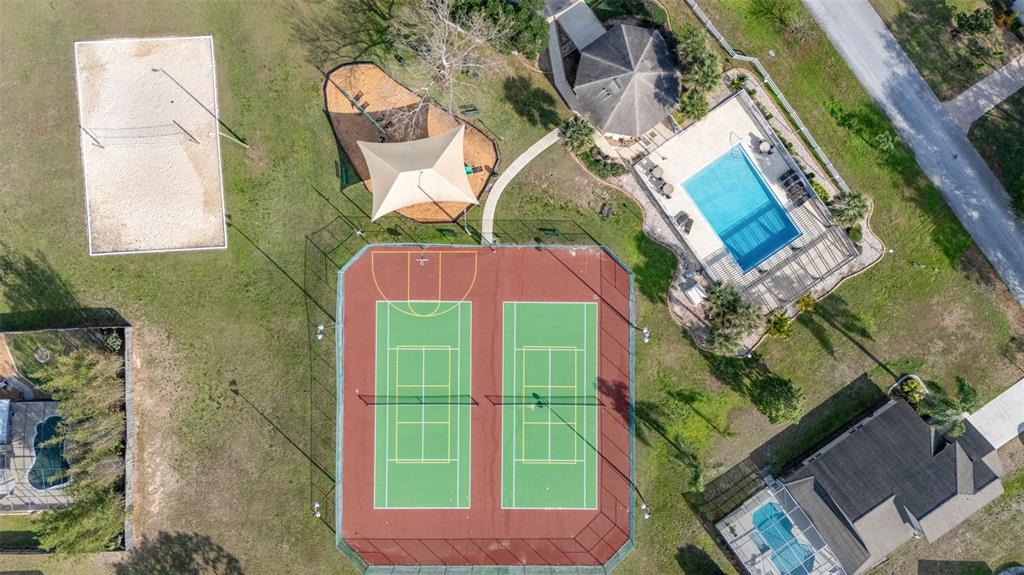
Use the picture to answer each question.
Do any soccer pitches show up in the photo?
No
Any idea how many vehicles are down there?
0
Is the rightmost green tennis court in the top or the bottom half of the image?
bottom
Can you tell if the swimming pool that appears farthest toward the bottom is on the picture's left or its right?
right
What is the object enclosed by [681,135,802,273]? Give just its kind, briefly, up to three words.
swimming pool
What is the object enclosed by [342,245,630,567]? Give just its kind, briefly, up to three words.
sports court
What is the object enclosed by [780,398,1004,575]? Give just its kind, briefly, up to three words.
house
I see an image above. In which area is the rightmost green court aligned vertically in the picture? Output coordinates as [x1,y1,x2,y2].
[502,302,598,509]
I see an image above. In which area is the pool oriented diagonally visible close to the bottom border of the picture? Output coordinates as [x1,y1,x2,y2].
[752,501,817,575]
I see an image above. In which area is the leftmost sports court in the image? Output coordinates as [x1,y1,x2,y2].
[74,35,227,255]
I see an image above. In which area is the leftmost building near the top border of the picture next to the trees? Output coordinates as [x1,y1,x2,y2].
[573,24,681,136]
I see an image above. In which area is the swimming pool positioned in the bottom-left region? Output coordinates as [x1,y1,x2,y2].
[27,414,73,492]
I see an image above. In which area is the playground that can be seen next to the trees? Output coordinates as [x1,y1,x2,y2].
[323,60,499,223]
